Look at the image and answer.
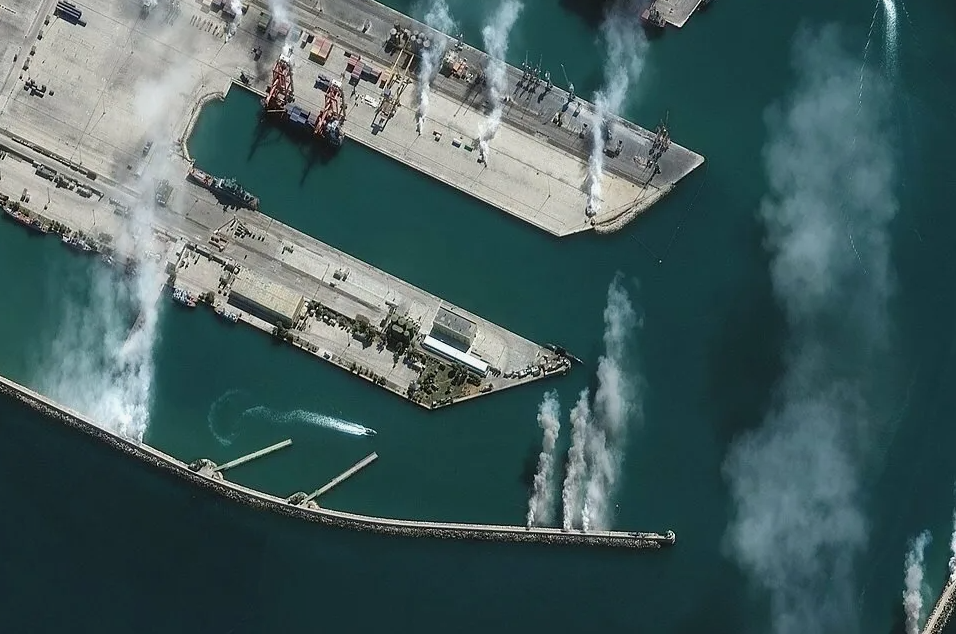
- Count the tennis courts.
none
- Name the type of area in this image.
port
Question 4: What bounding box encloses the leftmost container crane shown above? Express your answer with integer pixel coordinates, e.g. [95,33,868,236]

[251,54,293,115]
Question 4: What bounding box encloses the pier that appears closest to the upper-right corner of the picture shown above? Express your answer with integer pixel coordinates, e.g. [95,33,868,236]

[652,0,702,28]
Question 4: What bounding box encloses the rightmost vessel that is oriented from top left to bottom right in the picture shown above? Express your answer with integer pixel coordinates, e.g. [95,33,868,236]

[642,7,666,29]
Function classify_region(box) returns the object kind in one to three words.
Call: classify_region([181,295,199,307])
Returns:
boat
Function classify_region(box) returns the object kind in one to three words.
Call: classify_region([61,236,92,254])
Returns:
ship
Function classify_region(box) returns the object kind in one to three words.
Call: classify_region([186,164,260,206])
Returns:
ship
